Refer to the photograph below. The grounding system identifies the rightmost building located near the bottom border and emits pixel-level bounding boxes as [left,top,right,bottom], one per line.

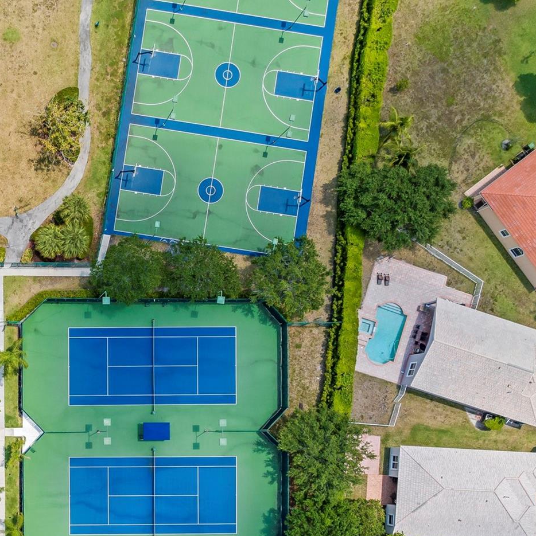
[387,445,536,536]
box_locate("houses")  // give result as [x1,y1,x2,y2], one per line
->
[474,149,536,283]
[387,445,536,536]
[404,297,536,427]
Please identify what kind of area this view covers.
sports ground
